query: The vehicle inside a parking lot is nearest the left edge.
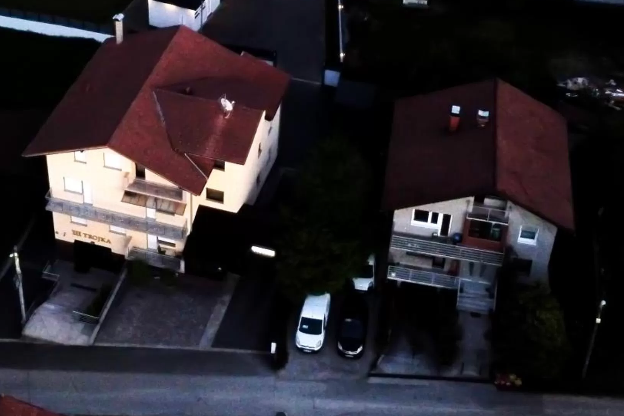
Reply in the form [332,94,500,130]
[295,292,331,359]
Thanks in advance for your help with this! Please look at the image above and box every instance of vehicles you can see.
[337,308,369,363]
[349,263,384,297]
[295,292,331,359]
